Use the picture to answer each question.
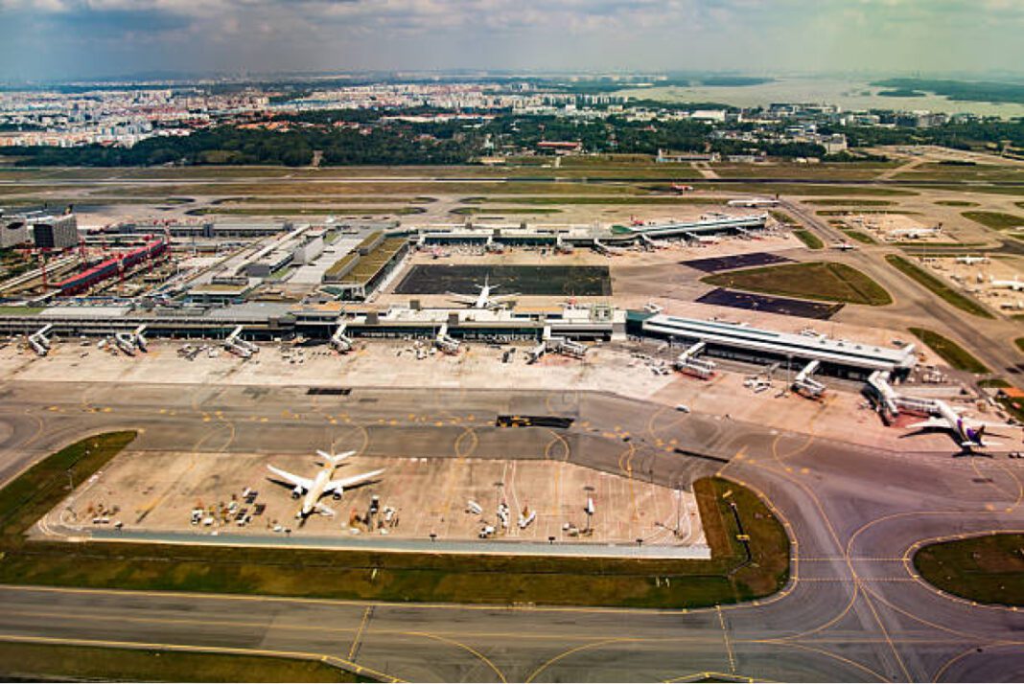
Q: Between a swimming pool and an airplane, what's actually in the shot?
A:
airplane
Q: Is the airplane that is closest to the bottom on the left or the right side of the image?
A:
left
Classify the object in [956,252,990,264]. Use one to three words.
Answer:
airplane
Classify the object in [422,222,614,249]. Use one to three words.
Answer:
building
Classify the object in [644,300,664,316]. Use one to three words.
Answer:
jet bridge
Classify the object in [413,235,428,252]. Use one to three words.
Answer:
jet bridge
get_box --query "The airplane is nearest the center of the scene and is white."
[449,271,522,309]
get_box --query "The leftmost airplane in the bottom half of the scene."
[260,436,383,521]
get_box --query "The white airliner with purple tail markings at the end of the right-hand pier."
[904,400,1024,444]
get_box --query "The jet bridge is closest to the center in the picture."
[526,328,553,360]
